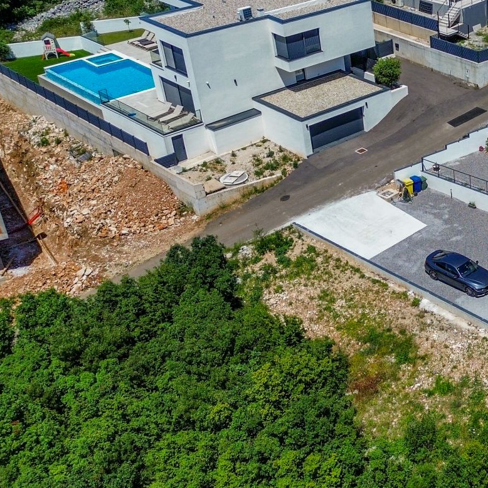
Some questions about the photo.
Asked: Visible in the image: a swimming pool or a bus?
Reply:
swimming pool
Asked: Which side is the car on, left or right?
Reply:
right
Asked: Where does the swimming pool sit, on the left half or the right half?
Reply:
left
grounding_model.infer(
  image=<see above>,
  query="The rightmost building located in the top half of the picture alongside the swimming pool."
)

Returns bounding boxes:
[105,0,415,163]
